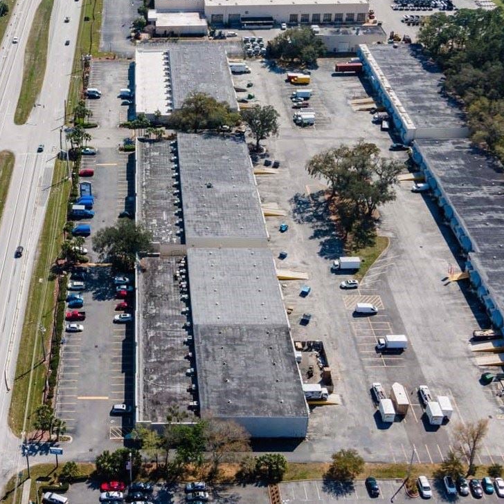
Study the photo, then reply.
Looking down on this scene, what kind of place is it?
industrial area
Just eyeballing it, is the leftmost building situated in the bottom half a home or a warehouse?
warehouse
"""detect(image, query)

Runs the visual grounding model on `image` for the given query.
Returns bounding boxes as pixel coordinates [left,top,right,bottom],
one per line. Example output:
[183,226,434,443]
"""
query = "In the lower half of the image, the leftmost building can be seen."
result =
[136,247,309,441]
